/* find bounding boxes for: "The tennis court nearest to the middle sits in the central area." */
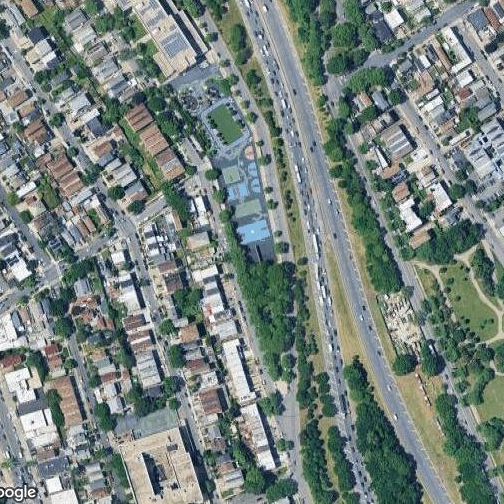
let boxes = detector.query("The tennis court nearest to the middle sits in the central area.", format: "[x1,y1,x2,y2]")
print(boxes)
[237,220,269,243]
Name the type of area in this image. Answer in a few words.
residential area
